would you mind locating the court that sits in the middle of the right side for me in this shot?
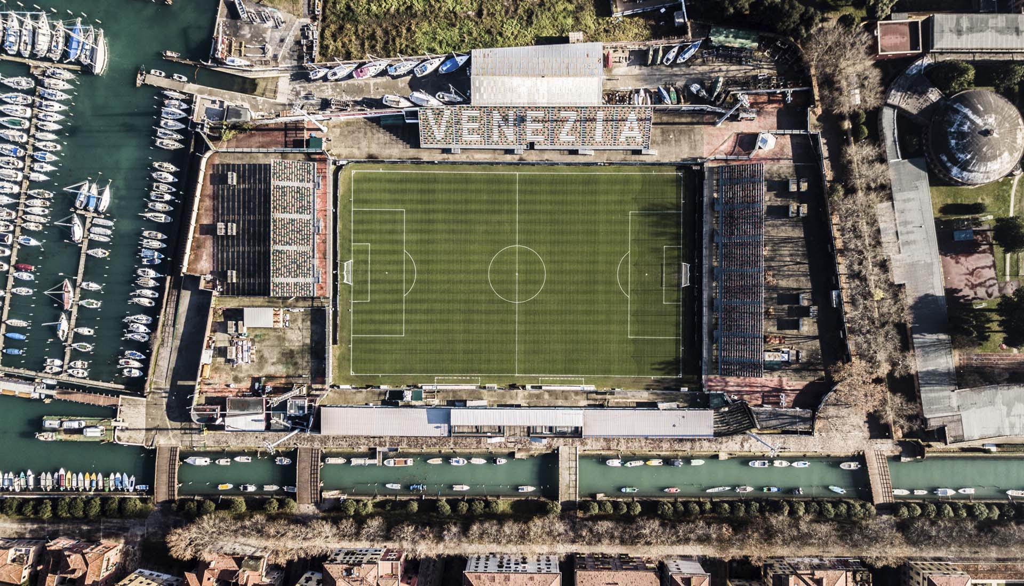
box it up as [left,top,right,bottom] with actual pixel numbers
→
[940,225,998,304]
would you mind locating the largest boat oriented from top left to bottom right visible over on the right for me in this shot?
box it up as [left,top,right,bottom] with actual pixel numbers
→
[688,83,711,102]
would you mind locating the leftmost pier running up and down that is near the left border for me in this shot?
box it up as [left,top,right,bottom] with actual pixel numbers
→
[0,73,40,378]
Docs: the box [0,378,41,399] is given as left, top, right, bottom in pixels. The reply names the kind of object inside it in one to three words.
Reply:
ship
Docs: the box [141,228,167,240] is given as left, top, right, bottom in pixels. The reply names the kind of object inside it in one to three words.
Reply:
boat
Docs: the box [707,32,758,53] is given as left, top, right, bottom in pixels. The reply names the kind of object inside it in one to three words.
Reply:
shed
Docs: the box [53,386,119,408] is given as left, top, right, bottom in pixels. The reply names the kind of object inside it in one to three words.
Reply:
pier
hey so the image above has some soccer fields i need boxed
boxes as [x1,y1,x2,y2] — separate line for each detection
[333,163,702,388]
